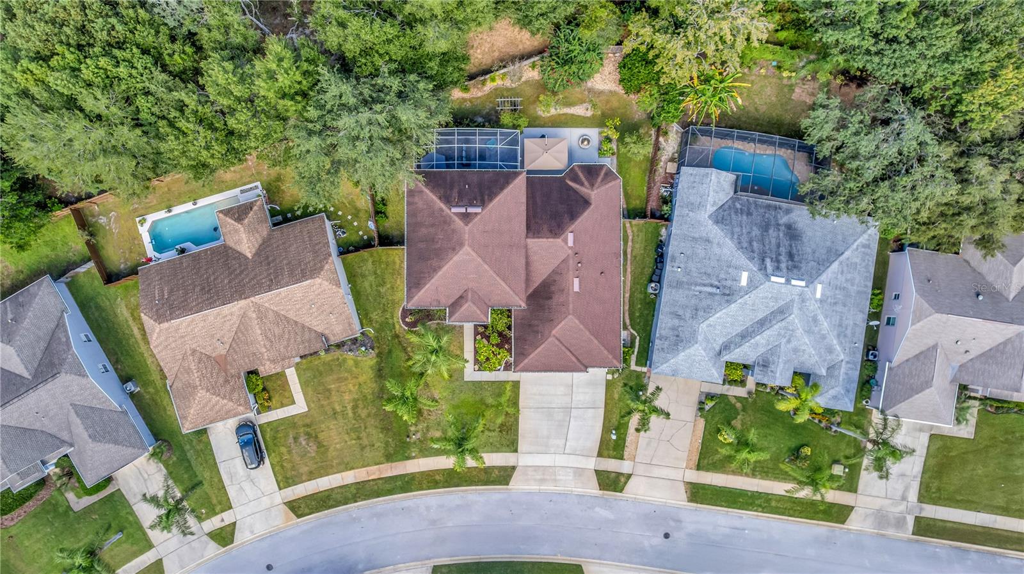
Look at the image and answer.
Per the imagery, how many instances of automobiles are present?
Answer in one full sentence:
The picture shows 1 automobile.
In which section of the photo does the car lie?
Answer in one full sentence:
The car is in the bottom left part of the image.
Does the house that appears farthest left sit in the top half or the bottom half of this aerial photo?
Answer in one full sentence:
It is in the bottom half that the house that appears farthest left appears.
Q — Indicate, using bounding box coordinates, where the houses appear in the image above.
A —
[138,195,373,435]
[0,273,157,494]
[648,166,880,412]
[404,162,623,373]
[871,222,1024,428]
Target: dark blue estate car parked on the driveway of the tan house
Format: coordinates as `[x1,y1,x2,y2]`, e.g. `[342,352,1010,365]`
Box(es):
[234,421,266,472]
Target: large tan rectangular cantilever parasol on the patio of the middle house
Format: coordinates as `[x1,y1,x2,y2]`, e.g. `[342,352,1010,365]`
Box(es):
[524,127,568,170]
